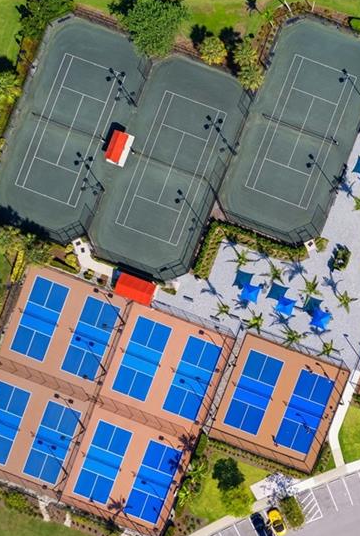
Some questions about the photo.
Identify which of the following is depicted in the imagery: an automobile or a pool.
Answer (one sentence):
I can see an automobile in this picture.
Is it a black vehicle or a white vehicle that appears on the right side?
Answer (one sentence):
The feature located on the right side is a black vehicle.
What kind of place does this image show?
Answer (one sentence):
It's a sports ground.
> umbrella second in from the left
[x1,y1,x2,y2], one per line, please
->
[275,294,297,317]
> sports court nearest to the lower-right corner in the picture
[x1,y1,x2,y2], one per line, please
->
[274,369,334,455]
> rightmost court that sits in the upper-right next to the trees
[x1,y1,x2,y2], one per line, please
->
[217,16,360,243]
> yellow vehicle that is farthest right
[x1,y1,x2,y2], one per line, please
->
[269,509,286,536]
